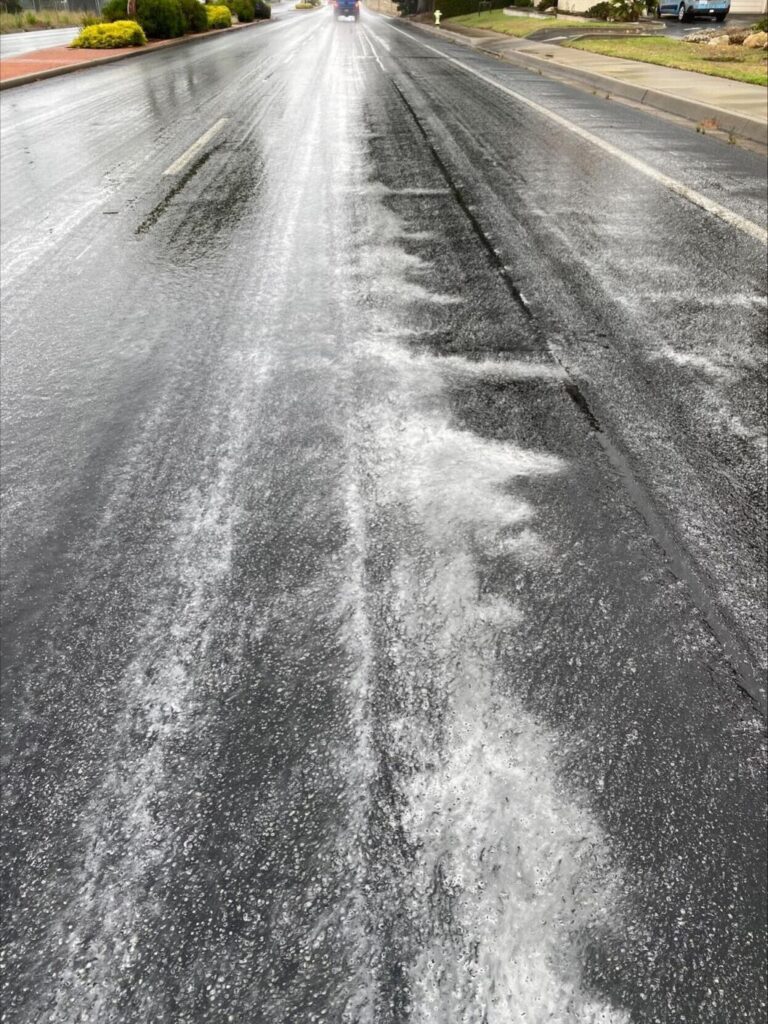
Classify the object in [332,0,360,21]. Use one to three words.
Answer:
car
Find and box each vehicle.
[652,0,735,22]
[332,0,360,21]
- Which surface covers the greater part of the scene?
paved ground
